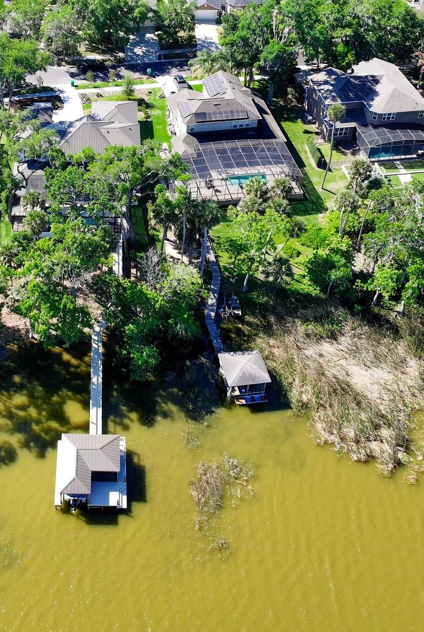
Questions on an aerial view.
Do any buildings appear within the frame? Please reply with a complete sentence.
Yes, the frame does contain a building.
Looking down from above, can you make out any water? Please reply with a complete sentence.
Yes, there is water in the image.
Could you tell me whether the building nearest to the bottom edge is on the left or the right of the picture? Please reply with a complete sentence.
It is on the left.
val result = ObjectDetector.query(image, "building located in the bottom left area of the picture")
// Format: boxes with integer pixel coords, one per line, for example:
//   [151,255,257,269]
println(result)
[54,431,128,511]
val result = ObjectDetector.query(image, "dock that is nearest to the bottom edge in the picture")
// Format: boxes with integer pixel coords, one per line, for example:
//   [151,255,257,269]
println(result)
[88,323,107,435]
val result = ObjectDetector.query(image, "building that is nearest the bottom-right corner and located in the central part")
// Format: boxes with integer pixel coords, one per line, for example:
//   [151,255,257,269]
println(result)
[216,348,271,404]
